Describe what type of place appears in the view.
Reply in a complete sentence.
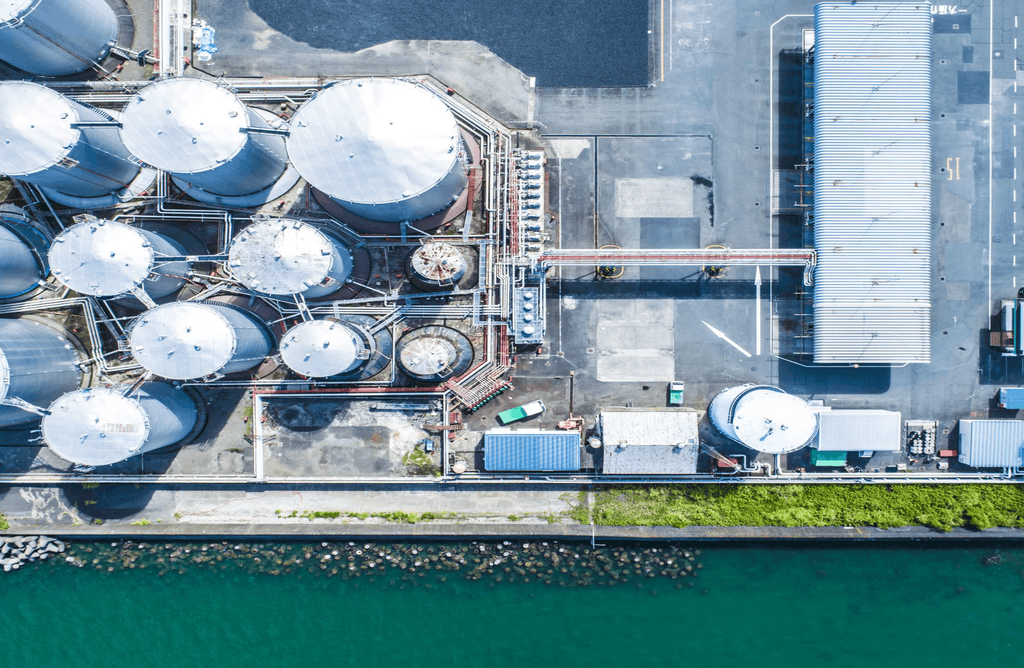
The area seen from above is an industrial area.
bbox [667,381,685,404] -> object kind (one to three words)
vehicle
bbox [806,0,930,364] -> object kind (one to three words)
building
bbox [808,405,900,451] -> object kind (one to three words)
building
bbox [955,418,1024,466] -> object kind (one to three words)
shed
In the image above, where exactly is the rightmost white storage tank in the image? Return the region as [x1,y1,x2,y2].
[707,379,824,455]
